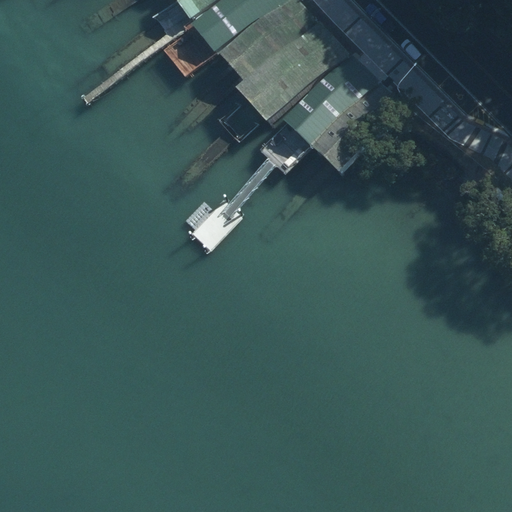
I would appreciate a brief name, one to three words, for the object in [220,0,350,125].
building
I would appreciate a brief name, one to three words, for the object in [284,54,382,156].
building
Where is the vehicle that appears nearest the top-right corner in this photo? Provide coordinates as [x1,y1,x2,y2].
[402,40,421,59]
